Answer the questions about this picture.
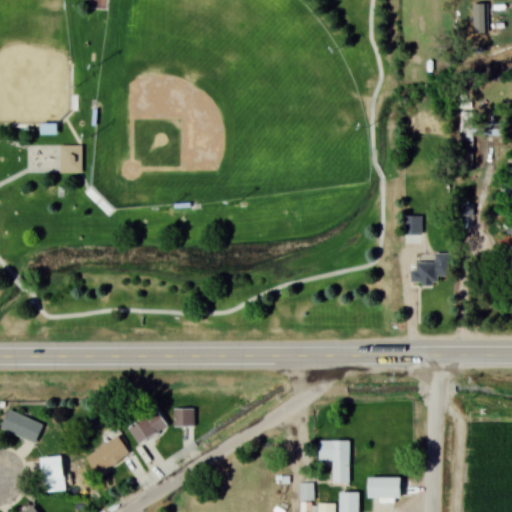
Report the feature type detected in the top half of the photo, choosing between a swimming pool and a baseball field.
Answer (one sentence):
What appears in the top half of the photo is a baseball field.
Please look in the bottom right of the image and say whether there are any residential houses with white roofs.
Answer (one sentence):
Yes, a residential house with a white roof can be seen in the bottom right of the image.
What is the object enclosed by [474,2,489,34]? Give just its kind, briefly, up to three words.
barn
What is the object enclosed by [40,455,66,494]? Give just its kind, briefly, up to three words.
house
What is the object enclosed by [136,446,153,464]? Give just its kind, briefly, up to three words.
camper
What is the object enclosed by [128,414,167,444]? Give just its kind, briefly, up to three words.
house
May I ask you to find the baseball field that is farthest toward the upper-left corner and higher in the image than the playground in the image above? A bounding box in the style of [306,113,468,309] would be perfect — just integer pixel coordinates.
[0,42,74,124]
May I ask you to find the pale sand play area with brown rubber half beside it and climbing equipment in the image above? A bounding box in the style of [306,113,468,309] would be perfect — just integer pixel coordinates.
[27,144,84,174]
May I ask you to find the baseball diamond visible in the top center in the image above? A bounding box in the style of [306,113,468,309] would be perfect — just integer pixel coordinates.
[90,0,370,209]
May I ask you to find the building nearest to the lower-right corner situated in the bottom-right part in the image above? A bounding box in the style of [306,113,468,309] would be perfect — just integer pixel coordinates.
[367,478,401,505]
